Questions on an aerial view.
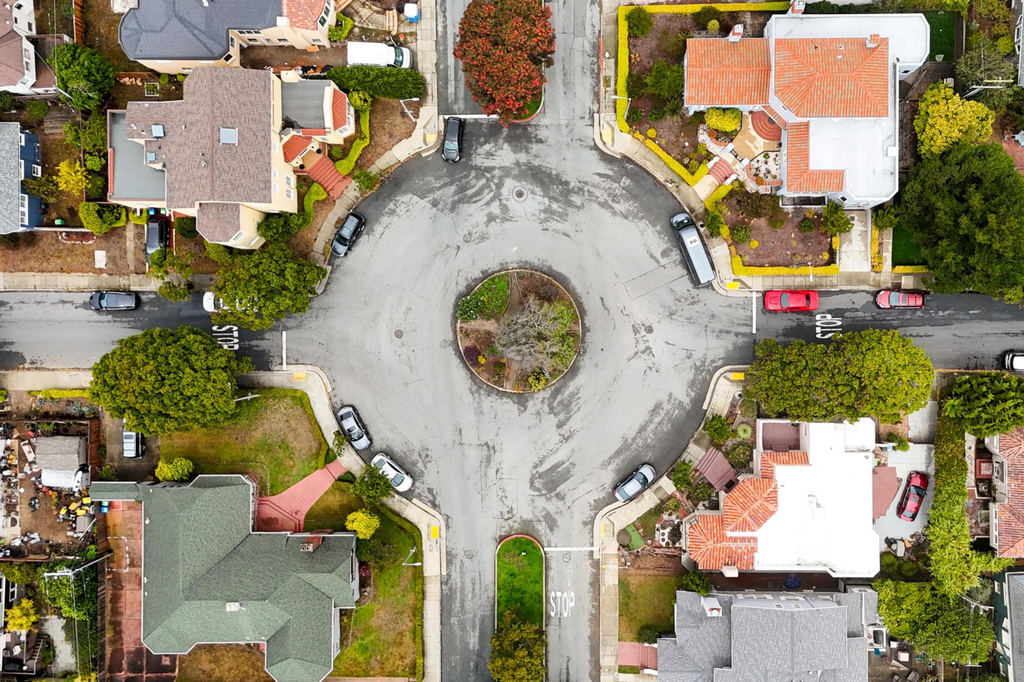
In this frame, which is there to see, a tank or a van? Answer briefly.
van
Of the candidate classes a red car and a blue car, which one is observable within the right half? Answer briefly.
red car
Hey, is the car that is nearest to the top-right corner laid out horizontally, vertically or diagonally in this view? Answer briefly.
horizontally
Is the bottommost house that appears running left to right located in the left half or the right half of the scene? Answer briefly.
right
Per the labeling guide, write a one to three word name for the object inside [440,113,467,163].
car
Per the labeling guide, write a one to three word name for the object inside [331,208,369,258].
car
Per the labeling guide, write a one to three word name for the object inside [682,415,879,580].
house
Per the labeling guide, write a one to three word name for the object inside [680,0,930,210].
house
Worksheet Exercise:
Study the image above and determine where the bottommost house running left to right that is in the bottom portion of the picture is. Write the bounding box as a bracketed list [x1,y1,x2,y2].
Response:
[652,579,889,682]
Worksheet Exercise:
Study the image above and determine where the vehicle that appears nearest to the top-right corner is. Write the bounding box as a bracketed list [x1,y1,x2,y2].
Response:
[872,287,924,312]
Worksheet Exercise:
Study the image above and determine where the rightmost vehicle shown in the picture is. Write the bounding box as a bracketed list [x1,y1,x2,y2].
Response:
[997,350,1024,371]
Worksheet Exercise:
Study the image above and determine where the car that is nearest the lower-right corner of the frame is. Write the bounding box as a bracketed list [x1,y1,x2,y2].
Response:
[892,468,928,523]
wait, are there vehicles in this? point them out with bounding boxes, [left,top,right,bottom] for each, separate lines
[665,212,718,287]
[892,468,928,523]
[336,403,373,451]
[761,288,817,313]
[370,448,415,493]
[203,289,236,314]
[440,113,467,163]
[611,460,658,504]
[345,34,414,74]
[119,424,149,466]
[872,287,924,312]
[91,288,143,313]
[997,350,1024,371]
[331,208,369,258]
[144,214,173,265]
